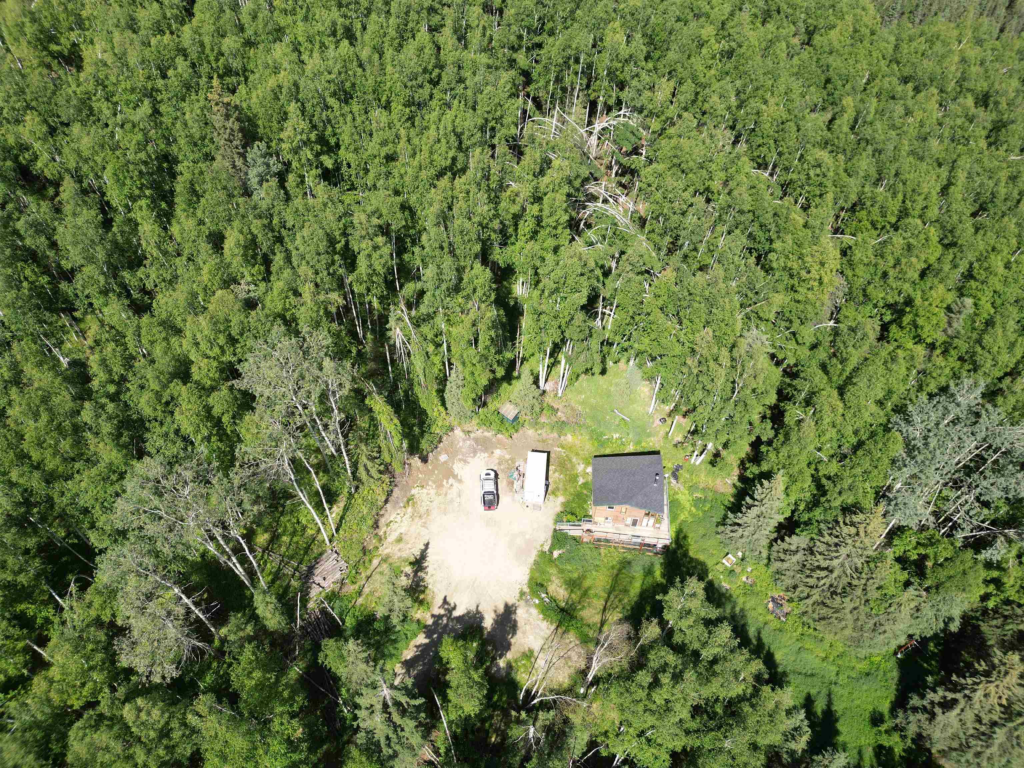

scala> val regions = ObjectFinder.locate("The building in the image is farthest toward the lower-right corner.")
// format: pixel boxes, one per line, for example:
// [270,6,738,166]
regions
[592,455,664,529]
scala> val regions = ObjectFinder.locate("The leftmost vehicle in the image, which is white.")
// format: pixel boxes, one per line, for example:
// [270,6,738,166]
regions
[479,469,498,511]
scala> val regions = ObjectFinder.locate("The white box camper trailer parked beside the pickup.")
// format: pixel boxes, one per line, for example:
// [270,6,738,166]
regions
[525,452,548,502]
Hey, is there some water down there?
No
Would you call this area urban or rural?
rural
